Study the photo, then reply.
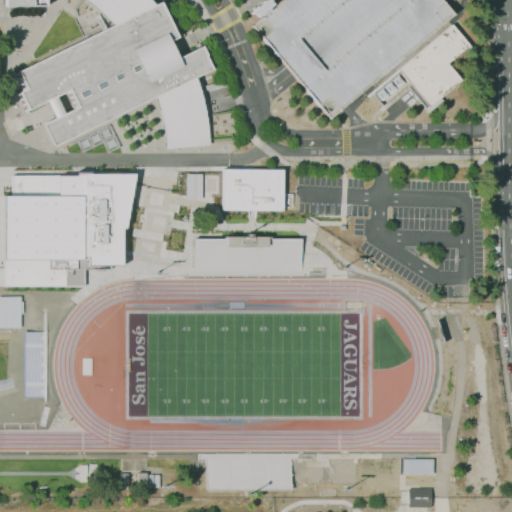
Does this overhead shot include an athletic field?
Yes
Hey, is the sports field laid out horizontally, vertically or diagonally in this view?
horizontally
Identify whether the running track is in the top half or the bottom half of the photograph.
bottom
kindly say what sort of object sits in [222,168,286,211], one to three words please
building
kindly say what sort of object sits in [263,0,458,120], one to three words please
building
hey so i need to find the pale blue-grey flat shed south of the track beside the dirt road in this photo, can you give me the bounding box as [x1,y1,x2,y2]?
[403,459,436,475]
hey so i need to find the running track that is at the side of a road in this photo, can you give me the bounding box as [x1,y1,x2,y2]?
[0,280,442,451]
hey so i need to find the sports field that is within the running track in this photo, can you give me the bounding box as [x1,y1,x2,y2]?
[125,310,364,419]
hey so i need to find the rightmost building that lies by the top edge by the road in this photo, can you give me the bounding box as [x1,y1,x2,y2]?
[401,25,472,112]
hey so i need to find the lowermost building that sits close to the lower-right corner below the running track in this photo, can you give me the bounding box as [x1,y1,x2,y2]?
[410,488,433,508]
